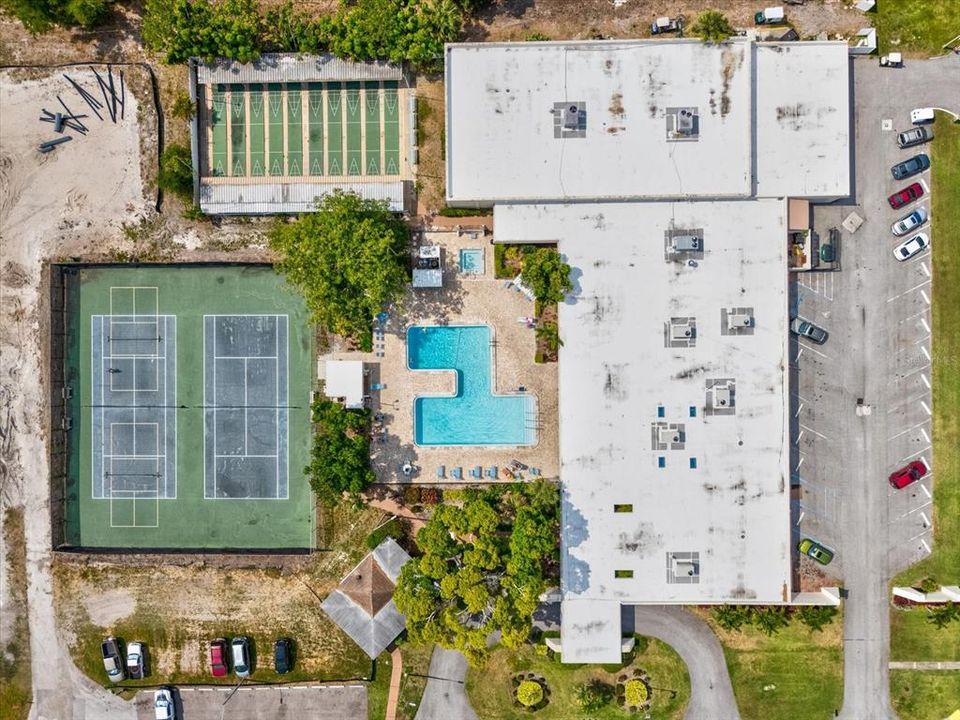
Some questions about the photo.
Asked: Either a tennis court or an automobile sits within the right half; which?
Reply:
automobile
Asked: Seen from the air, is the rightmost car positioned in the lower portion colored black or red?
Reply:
red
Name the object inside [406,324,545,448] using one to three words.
swimming pool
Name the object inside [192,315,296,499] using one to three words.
tennis court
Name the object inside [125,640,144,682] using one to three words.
vehicle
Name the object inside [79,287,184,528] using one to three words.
tennis court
